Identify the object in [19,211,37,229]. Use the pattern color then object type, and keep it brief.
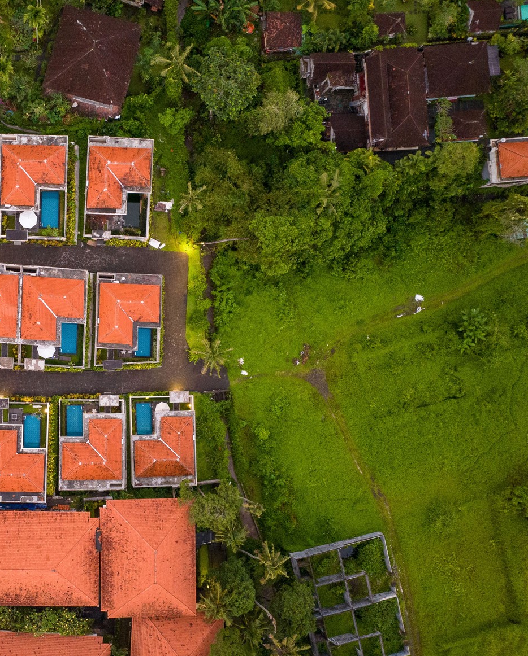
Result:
white umbrella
